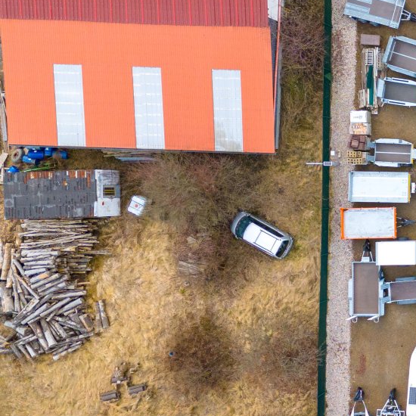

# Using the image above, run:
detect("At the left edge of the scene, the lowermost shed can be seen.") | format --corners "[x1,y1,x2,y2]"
[4,169,121,220]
